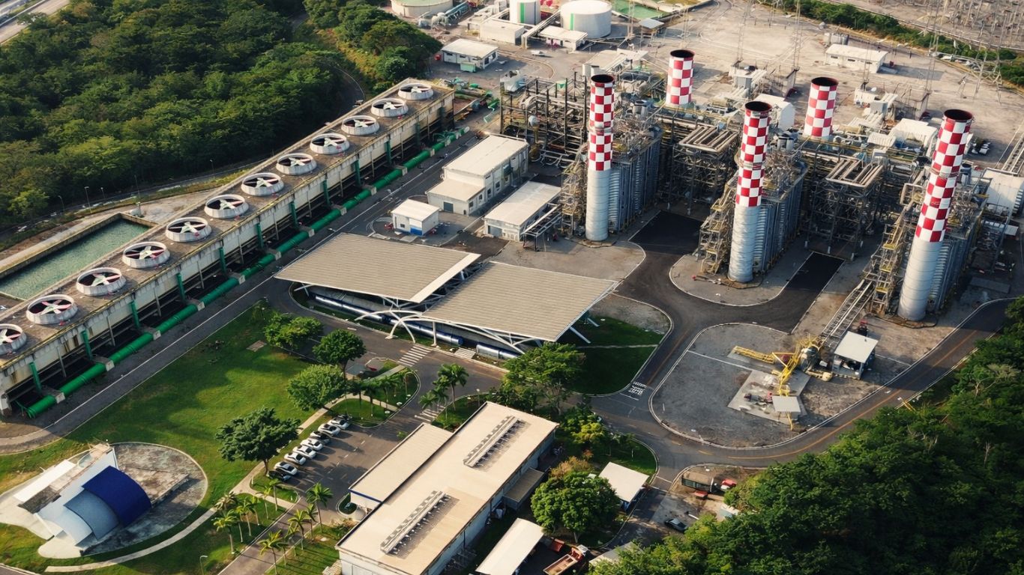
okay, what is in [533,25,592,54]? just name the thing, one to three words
building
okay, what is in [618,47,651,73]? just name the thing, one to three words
house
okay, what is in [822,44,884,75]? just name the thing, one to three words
shed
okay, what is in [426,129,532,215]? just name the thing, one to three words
building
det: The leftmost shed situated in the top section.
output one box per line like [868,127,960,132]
[388,197,434,234]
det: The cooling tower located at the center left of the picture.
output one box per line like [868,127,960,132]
[0,83,463,423]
